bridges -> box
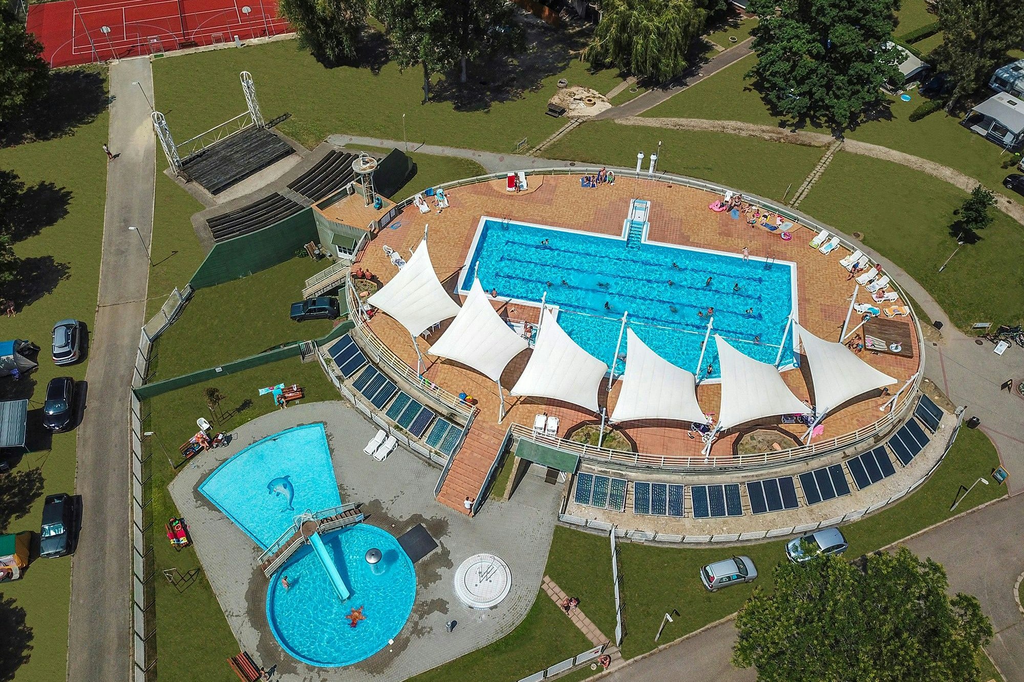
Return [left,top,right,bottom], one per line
[259,498,366,580]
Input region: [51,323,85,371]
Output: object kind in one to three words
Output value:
car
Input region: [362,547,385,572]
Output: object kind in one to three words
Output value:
fountain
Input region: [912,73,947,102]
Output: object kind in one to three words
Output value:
car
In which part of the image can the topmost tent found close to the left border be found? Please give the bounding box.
[0,338,39,378]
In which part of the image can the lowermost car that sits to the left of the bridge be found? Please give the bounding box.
[39,495,77,564]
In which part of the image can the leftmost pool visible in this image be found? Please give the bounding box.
[199,423,341,560]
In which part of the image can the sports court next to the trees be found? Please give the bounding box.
[24,0,328,67]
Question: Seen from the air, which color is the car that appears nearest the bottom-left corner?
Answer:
black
